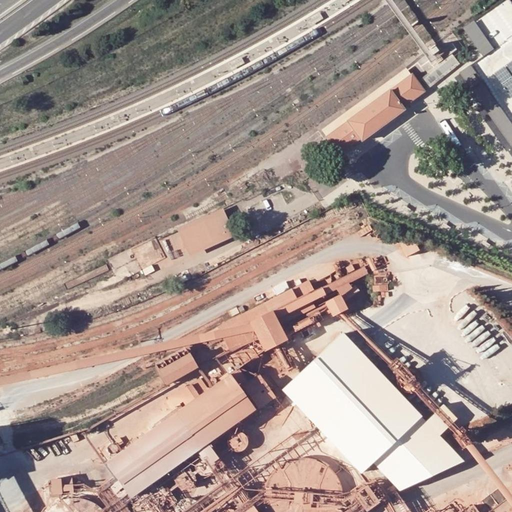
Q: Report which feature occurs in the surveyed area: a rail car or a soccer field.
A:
rail car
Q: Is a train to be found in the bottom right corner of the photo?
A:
No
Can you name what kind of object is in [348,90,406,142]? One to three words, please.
train station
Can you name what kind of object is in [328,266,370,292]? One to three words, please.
house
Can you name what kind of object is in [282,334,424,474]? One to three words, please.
building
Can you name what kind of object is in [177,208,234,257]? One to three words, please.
shed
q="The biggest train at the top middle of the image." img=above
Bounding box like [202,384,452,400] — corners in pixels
[160,28,323,116]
